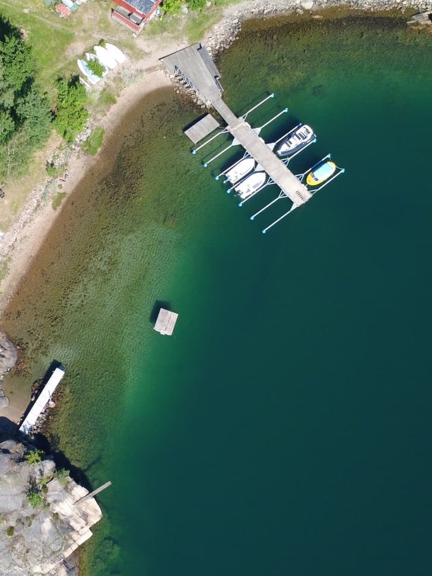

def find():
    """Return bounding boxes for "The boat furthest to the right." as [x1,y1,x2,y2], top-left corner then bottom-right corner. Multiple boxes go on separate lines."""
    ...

[308,159,340,185]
